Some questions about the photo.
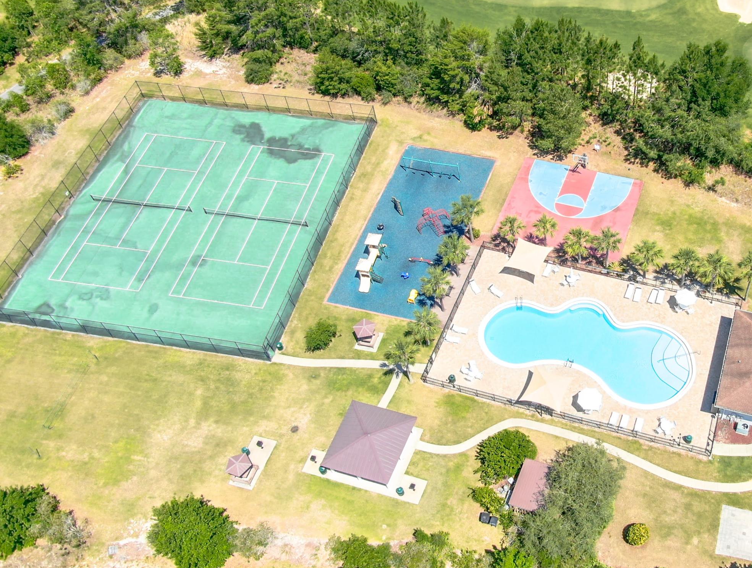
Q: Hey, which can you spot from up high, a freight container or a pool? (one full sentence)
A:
Of the two, only a pool appears.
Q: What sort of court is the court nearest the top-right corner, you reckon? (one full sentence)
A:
I'd say the court nearest the top-right corner is a basketball court.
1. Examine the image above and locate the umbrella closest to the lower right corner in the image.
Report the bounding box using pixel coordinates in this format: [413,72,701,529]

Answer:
[576,389,603,412]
